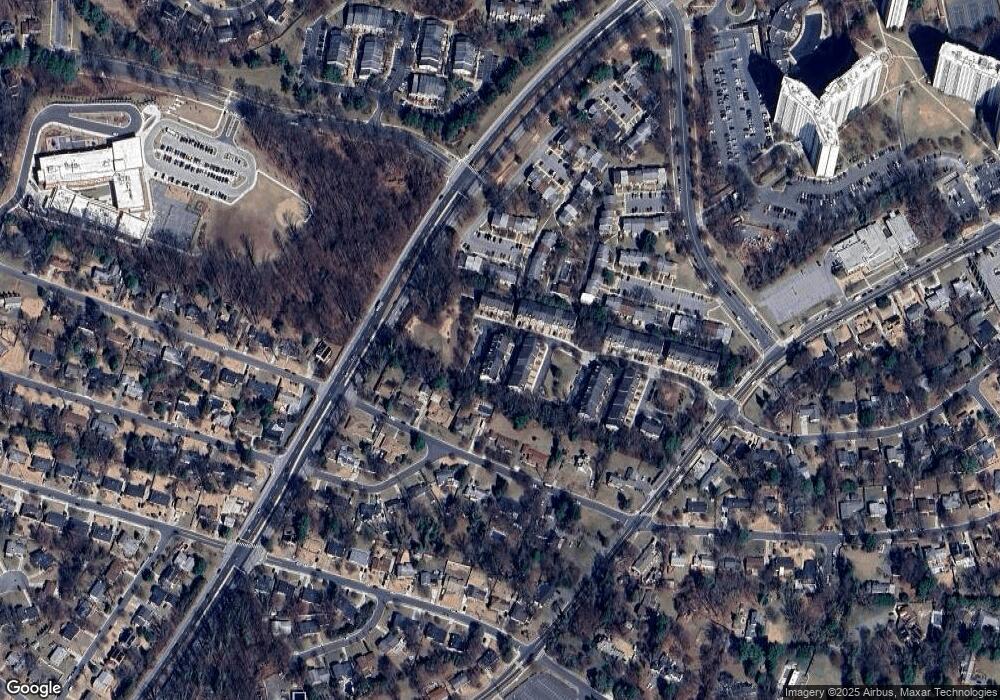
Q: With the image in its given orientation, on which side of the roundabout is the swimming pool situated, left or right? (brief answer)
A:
on its right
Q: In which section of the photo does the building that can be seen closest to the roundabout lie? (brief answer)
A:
top right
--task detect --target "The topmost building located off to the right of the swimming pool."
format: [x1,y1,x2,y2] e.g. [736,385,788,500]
[869,0,909,31]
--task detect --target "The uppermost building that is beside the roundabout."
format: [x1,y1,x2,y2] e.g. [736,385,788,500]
[770,0,806,75]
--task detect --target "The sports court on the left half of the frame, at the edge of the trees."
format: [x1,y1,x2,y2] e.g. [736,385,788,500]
[150,185,200,248]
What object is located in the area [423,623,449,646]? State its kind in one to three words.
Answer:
house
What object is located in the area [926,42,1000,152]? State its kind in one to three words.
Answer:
building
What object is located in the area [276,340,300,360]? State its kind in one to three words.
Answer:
house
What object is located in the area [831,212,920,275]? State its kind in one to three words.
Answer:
building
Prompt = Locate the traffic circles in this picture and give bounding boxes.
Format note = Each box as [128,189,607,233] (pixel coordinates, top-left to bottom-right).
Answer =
[715,0,758,24]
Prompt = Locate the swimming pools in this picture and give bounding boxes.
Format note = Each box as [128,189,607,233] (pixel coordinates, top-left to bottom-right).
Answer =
[788,11,832,63]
